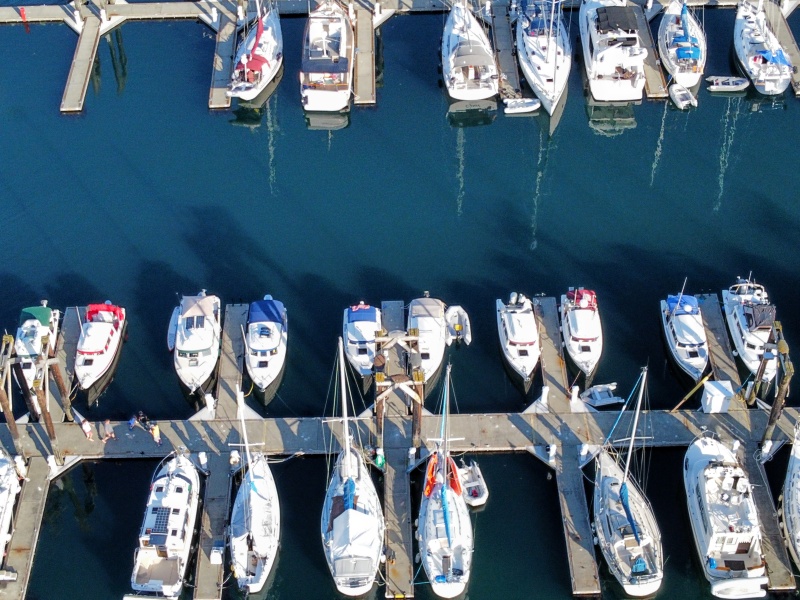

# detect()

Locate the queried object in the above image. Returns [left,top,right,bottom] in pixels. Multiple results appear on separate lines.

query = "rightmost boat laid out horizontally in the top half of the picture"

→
[705,77,750,92]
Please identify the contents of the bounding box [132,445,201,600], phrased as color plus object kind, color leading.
white boat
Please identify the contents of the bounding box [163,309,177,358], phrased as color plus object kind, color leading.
blue boat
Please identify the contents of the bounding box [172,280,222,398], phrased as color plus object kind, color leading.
white boat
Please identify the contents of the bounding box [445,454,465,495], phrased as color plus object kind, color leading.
red boat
